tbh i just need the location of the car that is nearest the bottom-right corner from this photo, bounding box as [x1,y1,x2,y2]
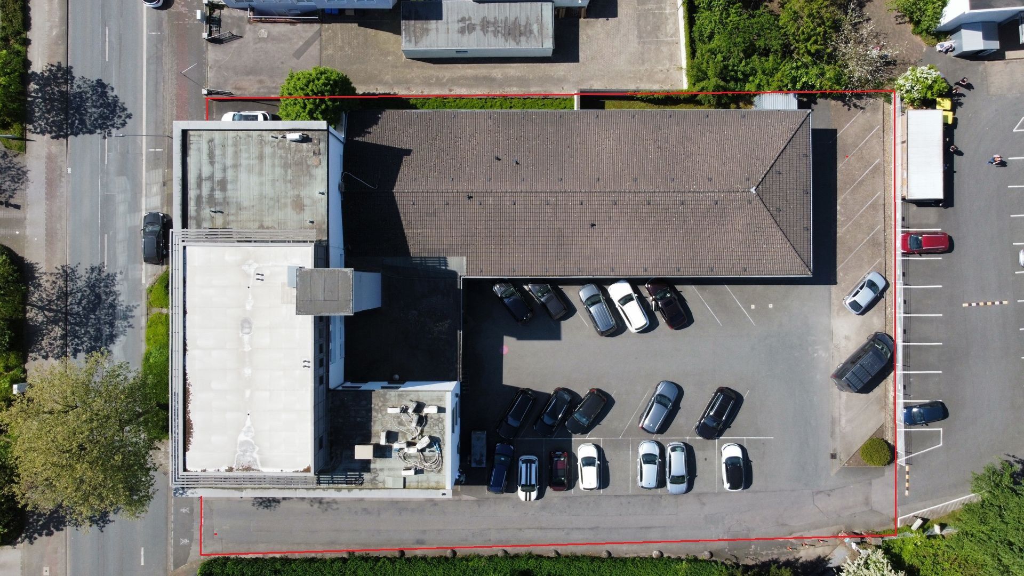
[903,400,948,426]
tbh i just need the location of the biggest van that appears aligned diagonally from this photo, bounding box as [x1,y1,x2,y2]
[836,334,894,393]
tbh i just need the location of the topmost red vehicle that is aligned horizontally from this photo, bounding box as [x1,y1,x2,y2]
[900,230,952,255]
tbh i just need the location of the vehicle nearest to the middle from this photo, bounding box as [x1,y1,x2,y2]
[495,281,531,325]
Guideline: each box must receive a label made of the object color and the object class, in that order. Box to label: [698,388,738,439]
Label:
black car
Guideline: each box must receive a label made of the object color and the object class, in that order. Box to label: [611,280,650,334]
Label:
white car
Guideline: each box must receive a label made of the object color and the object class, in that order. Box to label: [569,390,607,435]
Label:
black car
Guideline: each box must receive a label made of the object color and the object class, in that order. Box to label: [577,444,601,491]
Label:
white car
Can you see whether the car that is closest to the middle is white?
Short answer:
No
